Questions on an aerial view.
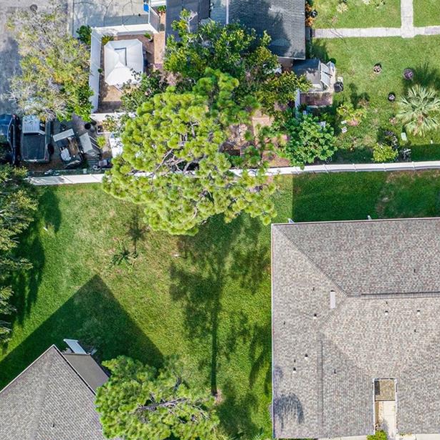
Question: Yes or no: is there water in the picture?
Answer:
No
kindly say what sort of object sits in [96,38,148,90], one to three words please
gazebo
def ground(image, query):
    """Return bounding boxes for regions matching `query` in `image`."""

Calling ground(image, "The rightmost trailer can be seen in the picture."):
[47,121,79,168]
